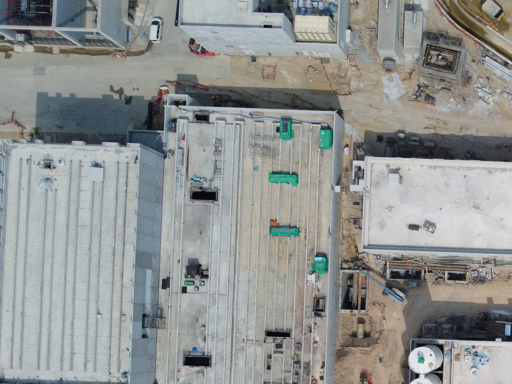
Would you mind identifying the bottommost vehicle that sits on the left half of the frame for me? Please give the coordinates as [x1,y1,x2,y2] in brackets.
[151,18,165,45]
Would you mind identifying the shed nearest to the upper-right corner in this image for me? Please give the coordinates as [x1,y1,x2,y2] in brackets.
[481,0,505,27]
